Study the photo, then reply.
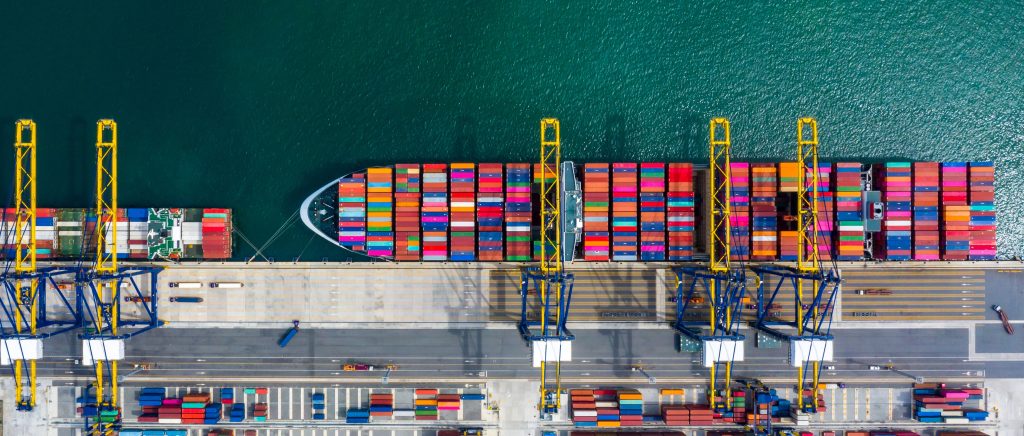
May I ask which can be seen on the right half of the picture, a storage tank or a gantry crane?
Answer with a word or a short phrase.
gantry crane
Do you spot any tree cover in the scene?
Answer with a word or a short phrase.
No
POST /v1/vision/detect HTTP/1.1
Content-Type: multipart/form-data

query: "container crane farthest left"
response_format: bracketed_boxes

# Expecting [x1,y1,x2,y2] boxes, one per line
[0,119,98,415]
